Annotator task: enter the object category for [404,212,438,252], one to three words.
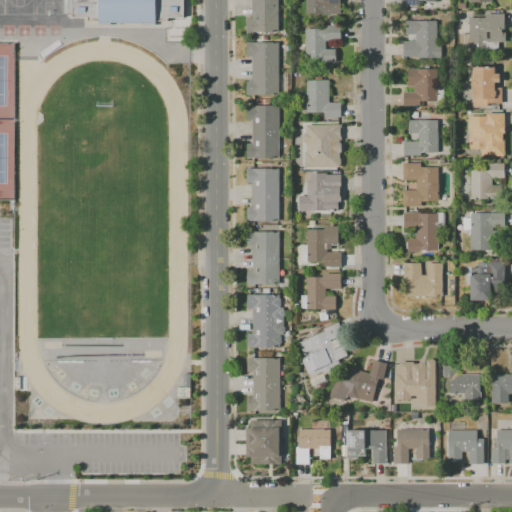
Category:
house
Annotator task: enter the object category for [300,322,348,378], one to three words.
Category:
house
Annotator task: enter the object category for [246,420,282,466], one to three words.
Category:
building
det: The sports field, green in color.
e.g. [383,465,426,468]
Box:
[38,62,168,337]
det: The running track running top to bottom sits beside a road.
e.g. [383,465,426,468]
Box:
[19,40,188,424]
